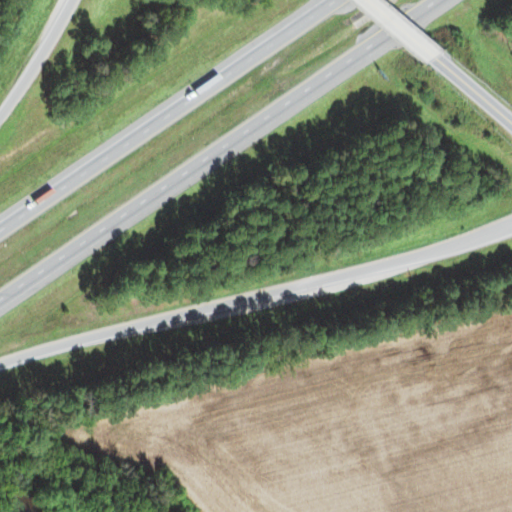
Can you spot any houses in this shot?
No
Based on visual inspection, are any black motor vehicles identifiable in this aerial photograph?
No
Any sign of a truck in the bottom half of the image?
No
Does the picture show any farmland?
Yes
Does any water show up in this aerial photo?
No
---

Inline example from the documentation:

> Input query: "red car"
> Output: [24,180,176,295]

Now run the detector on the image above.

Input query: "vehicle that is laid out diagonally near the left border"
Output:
[25,188,54,210]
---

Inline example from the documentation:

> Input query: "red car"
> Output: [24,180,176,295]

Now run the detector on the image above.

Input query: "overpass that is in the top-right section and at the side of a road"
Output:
[354,0,449,68]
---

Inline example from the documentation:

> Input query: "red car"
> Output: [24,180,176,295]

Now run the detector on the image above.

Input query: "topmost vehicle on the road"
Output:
[185,73,222,100]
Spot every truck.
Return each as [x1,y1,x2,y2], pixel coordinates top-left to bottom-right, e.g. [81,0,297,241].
[185,73,222,100]
[25,188,54,210]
